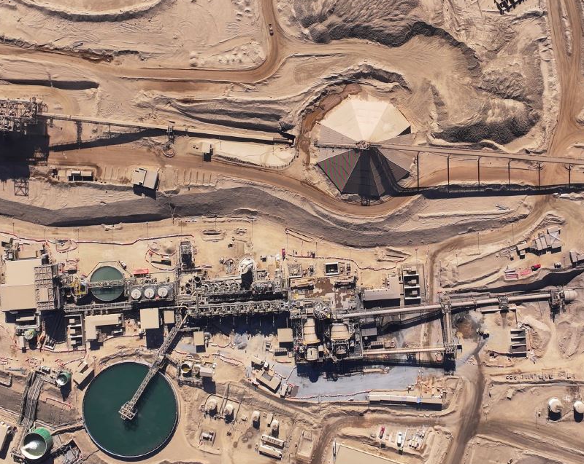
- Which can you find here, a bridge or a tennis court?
bridge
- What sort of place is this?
industrial area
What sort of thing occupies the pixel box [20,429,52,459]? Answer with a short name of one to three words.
storage tank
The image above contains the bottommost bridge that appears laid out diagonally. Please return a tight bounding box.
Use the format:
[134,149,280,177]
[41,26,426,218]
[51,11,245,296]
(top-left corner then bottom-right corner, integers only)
[128,320,188,410]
